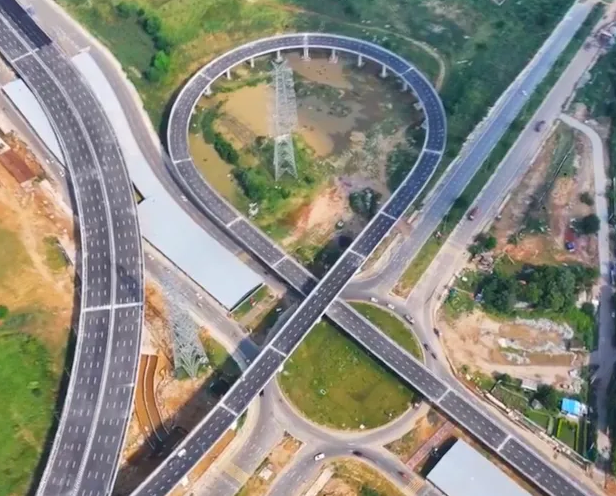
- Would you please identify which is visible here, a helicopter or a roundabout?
roundabout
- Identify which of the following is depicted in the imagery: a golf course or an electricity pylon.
electricity pylon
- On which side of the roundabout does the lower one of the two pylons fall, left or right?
left of it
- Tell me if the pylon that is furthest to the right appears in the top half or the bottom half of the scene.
top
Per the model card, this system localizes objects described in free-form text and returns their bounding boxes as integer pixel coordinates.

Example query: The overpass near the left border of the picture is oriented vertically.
[0,0,143,496]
